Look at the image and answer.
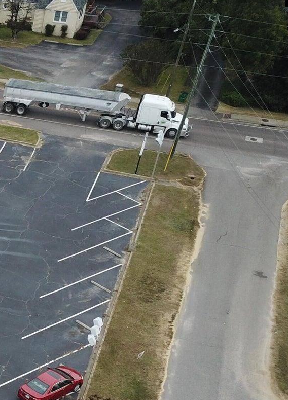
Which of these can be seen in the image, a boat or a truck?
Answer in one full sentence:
Looking from above, you can make out a truck.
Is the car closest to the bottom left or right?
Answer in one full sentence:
The car closest to the bottom sits on the left side.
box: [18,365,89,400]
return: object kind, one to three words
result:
car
